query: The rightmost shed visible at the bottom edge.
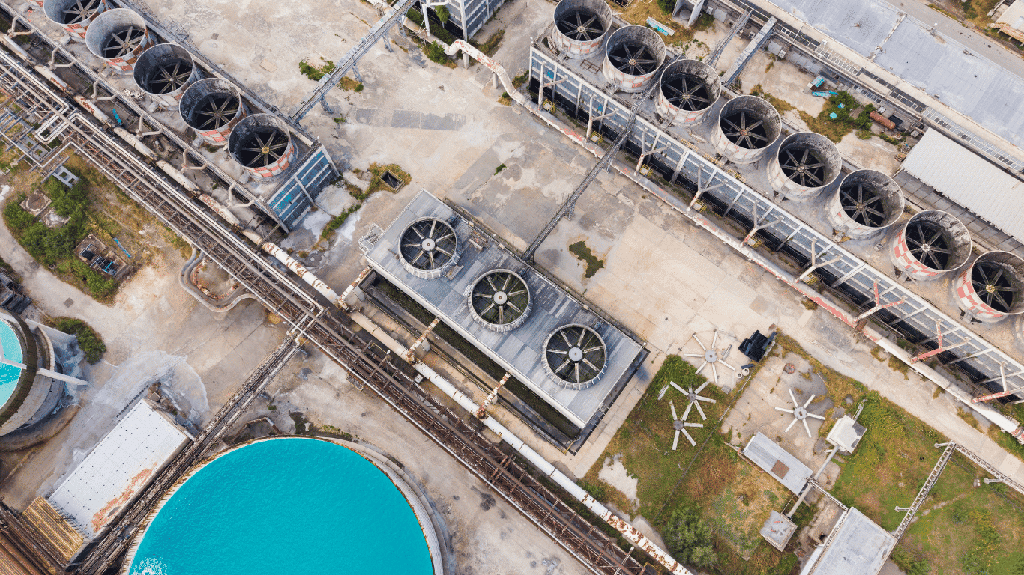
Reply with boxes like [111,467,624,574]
[795,504,901,575]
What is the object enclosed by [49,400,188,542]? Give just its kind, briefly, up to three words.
building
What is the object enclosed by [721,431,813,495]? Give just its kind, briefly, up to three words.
shed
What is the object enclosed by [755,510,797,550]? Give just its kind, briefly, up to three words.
shed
